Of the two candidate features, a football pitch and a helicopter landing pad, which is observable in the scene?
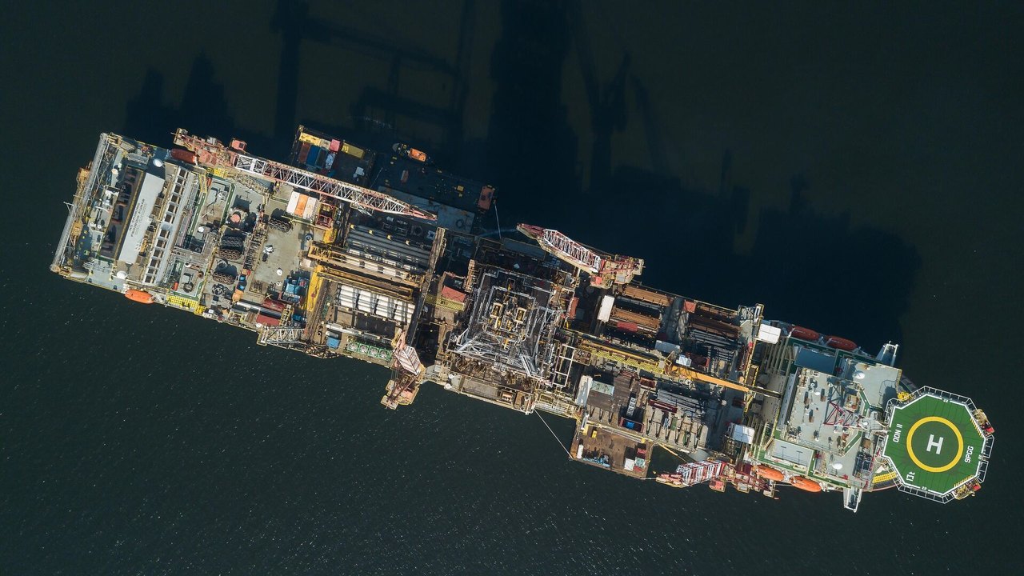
helicopter landing pad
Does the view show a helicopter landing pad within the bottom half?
Yes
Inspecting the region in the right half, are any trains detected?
No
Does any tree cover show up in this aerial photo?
No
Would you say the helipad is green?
Yes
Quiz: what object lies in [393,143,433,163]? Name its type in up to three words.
boat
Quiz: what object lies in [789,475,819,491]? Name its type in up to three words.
boat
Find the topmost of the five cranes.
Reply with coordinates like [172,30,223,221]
[171,131,448,224]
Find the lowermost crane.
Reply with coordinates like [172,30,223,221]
[617,431,779,499]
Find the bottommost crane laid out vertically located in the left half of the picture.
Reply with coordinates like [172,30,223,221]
[382,318,433,407]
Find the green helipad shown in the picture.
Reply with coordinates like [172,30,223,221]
[874,386,995,503]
